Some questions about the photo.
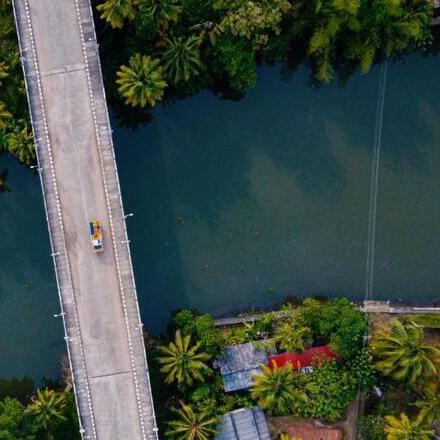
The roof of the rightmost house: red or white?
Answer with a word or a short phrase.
red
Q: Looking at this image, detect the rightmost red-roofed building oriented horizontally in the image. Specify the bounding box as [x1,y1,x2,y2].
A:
[301,344,339,364]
